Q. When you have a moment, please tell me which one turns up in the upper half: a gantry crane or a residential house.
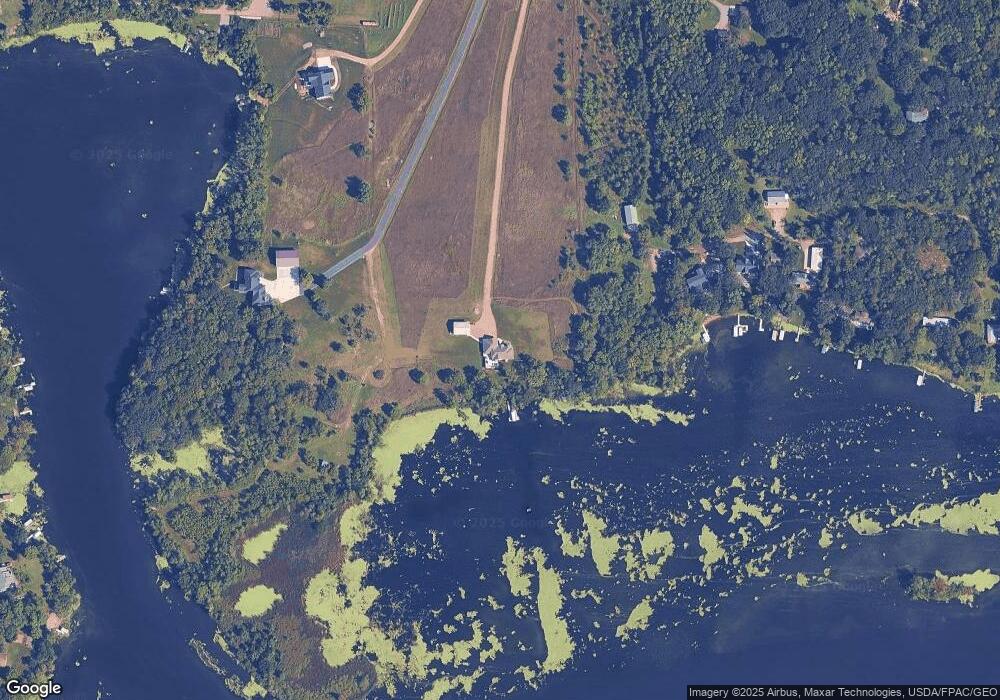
residential house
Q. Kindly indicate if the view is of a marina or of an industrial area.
marina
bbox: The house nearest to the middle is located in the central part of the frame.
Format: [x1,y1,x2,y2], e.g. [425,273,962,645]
[482,338,517,366]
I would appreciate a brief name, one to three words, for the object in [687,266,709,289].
house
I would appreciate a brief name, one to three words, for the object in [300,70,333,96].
house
